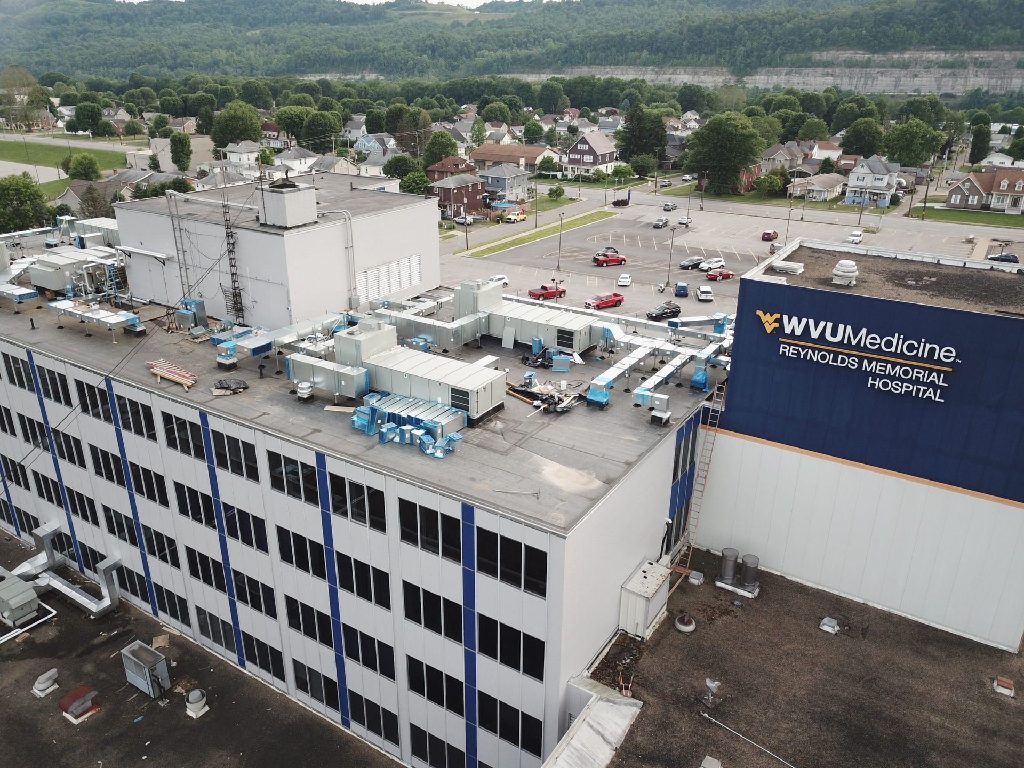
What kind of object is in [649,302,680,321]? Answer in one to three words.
car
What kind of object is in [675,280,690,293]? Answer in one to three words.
vehicle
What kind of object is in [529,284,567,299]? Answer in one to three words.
vehicle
